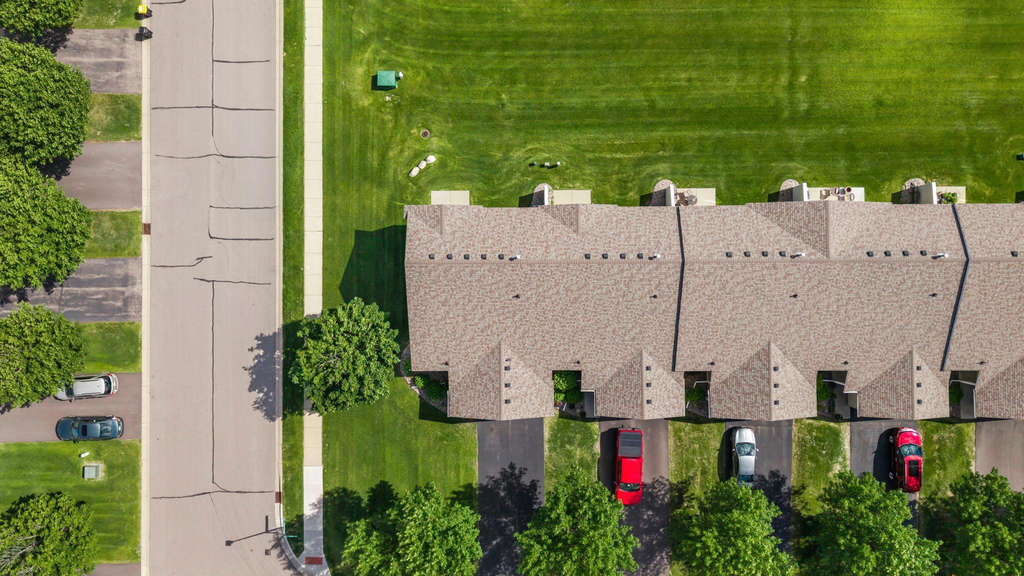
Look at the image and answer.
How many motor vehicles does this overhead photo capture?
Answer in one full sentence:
The picture shows 5 motor vehicles.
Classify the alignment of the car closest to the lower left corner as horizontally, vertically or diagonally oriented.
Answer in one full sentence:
The car closest to the lower left corner has been laid out horizontally relative to the frame.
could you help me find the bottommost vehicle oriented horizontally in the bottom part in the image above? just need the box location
[60,415,125,444]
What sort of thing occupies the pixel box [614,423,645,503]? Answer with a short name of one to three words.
truck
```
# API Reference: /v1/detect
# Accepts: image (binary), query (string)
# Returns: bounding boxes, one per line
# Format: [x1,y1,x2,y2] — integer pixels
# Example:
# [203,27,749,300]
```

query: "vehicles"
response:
[614,423,645,503]
[60,372,122,402]
[728,425,759,488]
[888,428,923,492]
[60,415,125,444]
